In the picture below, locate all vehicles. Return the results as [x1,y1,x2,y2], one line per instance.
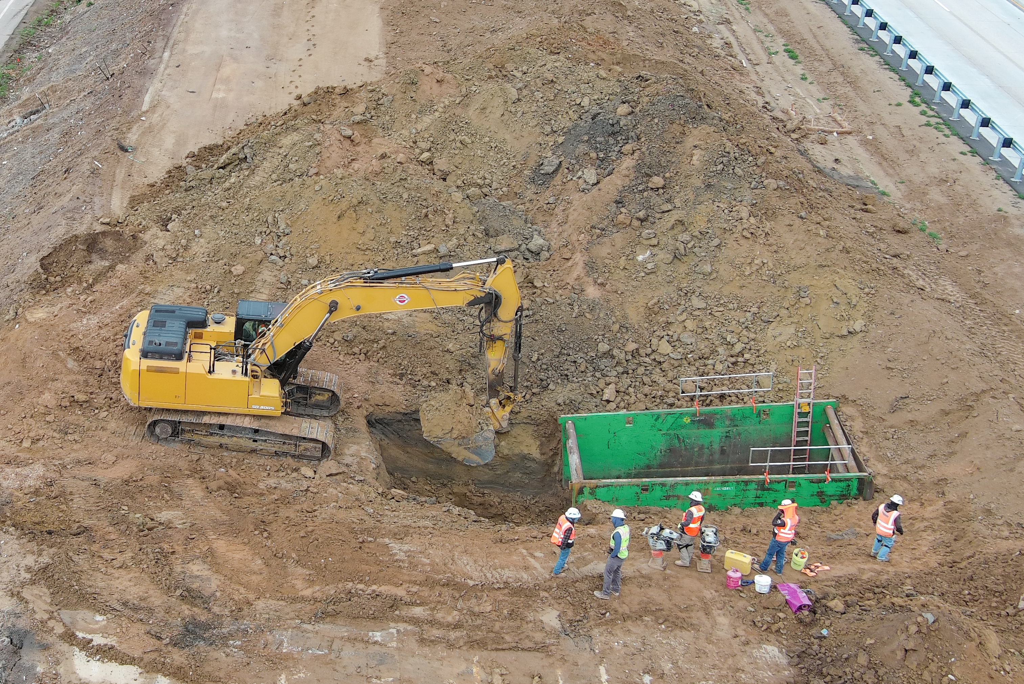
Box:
[121,247,523,466]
